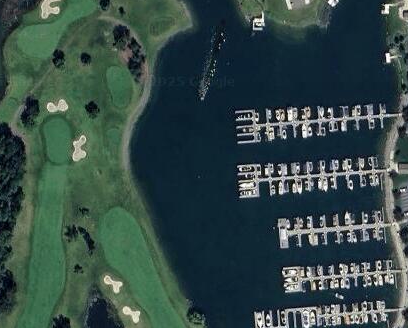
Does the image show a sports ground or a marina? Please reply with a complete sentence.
This image shows a marina.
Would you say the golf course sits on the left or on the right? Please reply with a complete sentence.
The golf course sits on the left side.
